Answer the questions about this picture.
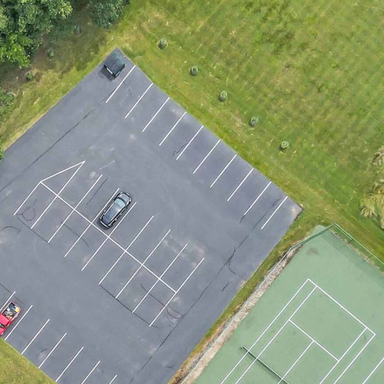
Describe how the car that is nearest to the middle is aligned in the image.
diagonally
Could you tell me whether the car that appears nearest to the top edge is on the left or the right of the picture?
left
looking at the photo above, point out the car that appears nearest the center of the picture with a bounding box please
[102,190,134,229]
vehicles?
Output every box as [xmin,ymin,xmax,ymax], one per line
[102,48,129,80]
[0,300,22,338]
[102,190,134,229]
